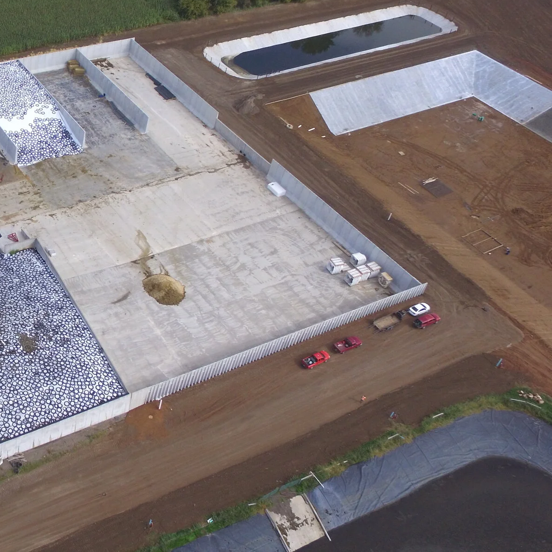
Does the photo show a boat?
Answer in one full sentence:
No, this view has no boat in it.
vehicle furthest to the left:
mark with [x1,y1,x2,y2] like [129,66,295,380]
[300,348,334,367]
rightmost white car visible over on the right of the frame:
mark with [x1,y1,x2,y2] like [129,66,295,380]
[407,300,433,315]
